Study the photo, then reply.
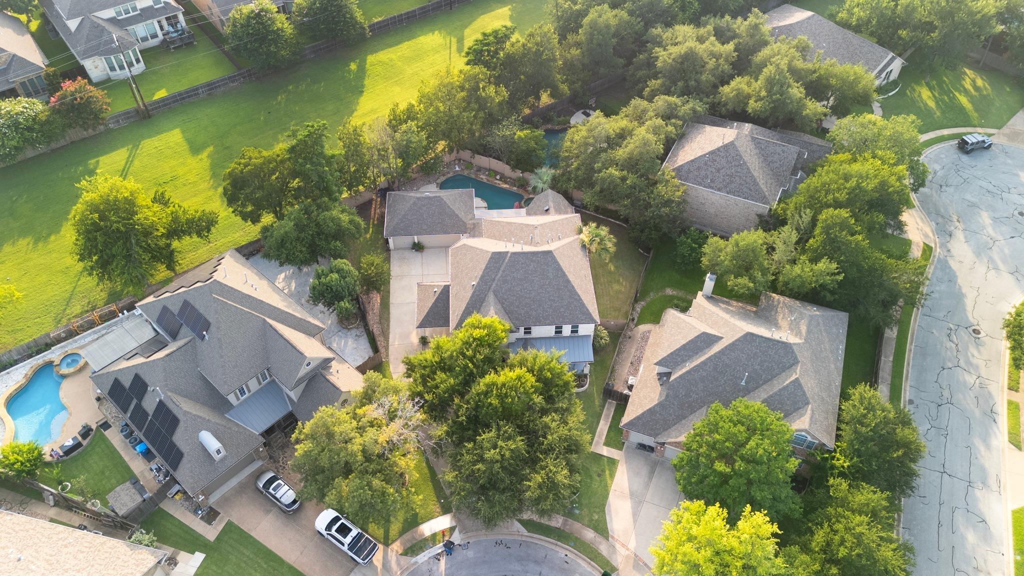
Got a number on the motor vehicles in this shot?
three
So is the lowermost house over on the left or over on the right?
left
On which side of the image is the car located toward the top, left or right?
right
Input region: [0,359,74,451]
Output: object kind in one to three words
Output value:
swimming pool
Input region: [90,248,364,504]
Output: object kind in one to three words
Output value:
house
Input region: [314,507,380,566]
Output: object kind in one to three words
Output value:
truck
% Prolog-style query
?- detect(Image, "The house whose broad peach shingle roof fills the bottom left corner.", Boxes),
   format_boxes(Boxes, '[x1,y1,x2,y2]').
[0,506,173,576]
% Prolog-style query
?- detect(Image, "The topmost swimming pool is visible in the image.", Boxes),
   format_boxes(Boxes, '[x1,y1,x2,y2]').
[541,126,578,167]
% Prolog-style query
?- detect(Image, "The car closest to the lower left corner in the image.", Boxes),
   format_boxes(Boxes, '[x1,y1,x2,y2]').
[256,470,304,517]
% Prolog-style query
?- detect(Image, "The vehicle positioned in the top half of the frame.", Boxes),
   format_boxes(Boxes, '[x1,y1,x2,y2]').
[956,133,993,154]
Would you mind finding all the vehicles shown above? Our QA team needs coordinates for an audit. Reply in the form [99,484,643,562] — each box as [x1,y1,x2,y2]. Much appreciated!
[956,133,993,154]
[314,507,380,566]
[256,470,304,517]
